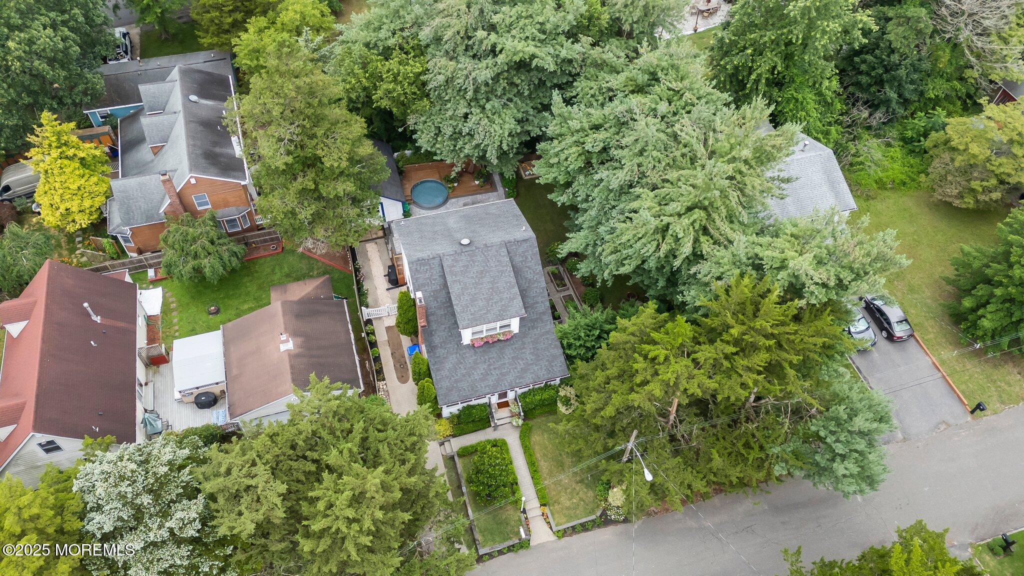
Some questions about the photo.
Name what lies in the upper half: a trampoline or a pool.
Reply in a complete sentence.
You can see a pool in the upper half.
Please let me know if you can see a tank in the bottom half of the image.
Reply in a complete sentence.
No, in the bottom half of the image there is no tank.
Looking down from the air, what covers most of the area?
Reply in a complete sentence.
The scene is dominated by trees.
